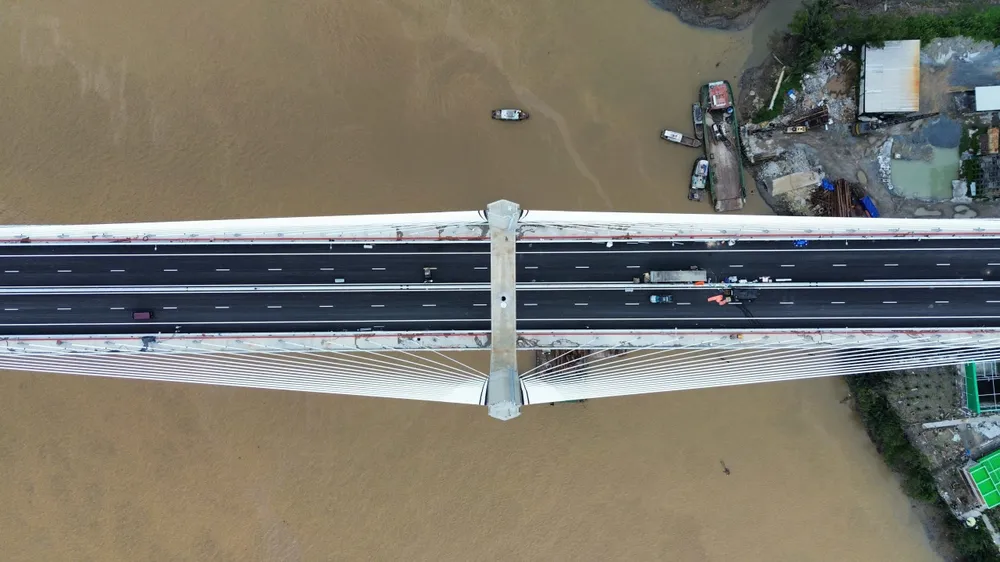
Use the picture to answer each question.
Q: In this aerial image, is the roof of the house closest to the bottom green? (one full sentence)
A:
Yes, the roof of the house closest to the bottom appears green.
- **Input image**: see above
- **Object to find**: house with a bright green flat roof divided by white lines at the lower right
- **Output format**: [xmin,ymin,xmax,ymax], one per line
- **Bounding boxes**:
[954,448,1000,510]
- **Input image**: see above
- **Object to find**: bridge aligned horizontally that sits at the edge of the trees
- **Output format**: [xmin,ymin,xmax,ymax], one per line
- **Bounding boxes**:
[0,190,1000,421]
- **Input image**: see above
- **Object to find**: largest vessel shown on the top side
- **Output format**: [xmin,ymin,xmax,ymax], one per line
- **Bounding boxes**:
[700,79,747,212]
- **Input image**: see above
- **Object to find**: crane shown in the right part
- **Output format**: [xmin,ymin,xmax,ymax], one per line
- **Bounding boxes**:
[853,109,951,137]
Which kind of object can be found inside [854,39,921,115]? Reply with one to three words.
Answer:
building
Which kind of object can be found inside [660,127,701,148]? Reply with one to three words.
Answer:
boat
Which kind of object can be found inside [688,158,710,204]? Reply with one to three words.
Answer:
boat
